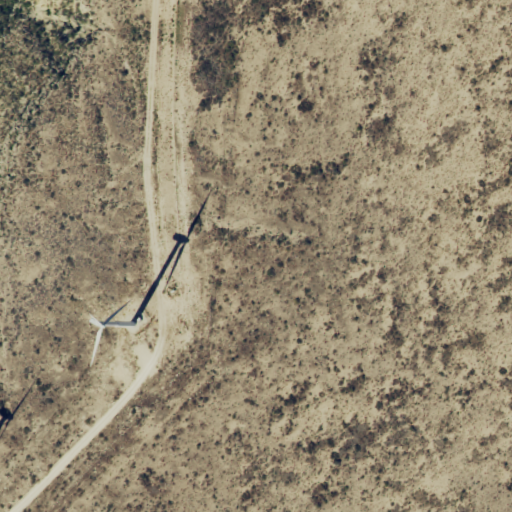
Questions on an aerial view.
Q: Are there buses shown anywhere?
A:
No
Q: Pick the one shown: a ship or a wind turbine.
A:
wind turbine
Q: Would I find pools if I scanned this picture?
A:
No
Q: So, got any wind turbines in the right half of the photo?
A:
No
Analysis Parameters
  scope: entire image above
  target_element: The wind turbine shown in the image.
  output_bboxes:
[90,300,138,366]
